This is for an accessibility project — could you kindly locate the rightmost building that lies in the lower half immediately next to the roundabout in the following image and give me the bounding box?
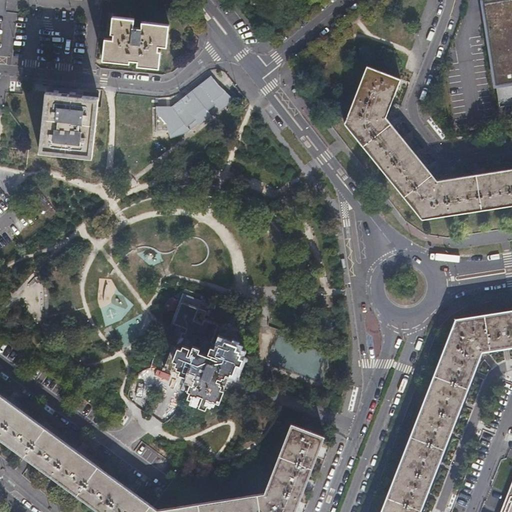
[380,310,512,512]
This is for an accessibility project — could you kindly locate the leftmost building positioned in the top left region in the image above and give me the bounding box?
[38,92,100,162]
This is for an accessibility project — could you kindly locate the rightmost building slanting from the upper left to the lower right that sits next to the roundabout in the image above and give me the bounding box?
[344,67,512,220]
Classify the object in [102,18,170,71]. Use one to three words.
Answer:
building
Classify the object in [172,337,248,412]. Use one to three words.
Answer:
house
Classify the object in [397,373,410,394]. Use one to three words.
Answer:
vehicle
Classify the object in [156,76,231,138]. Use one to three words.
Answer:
building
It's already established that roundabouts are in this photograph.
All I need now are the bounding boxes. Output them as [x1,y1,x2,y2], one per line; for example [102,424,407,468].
[364,244,446,326]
